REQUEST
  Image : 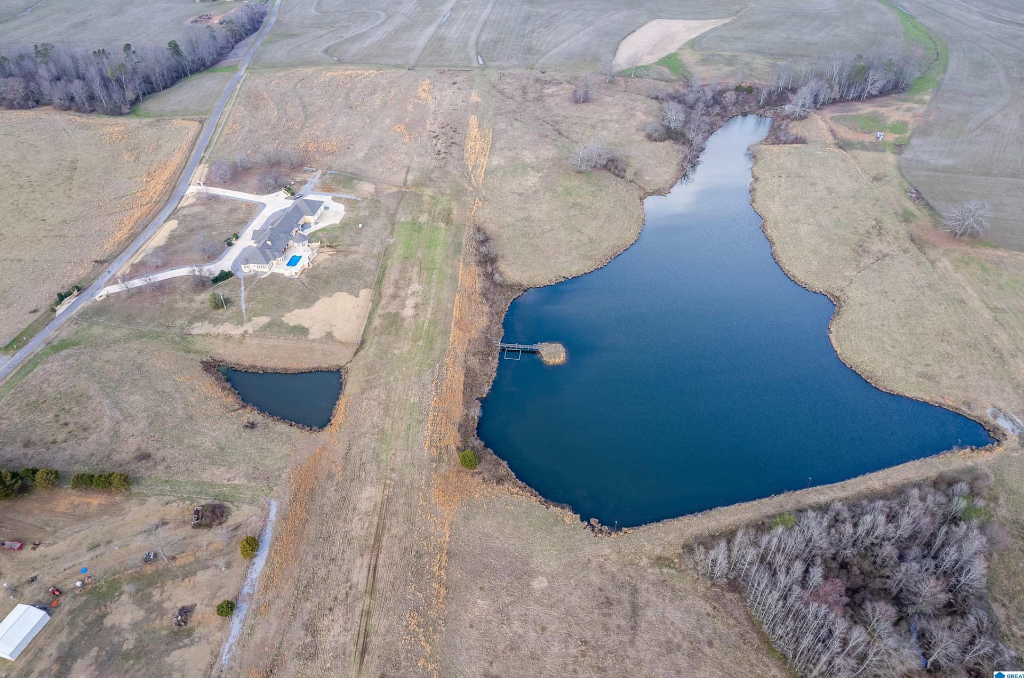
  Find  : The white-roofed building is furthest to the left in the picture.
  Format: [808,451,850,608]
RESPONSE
[0,603,51,661]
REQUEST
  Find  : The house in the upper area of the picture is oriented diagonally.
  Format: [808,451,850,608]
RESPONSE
[240,196,326,273]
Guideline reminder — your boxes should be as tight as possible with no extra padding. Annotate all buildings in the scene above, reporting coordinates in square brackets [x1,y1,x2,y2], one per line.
[240,196,326,273]
[0,603,51,661]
